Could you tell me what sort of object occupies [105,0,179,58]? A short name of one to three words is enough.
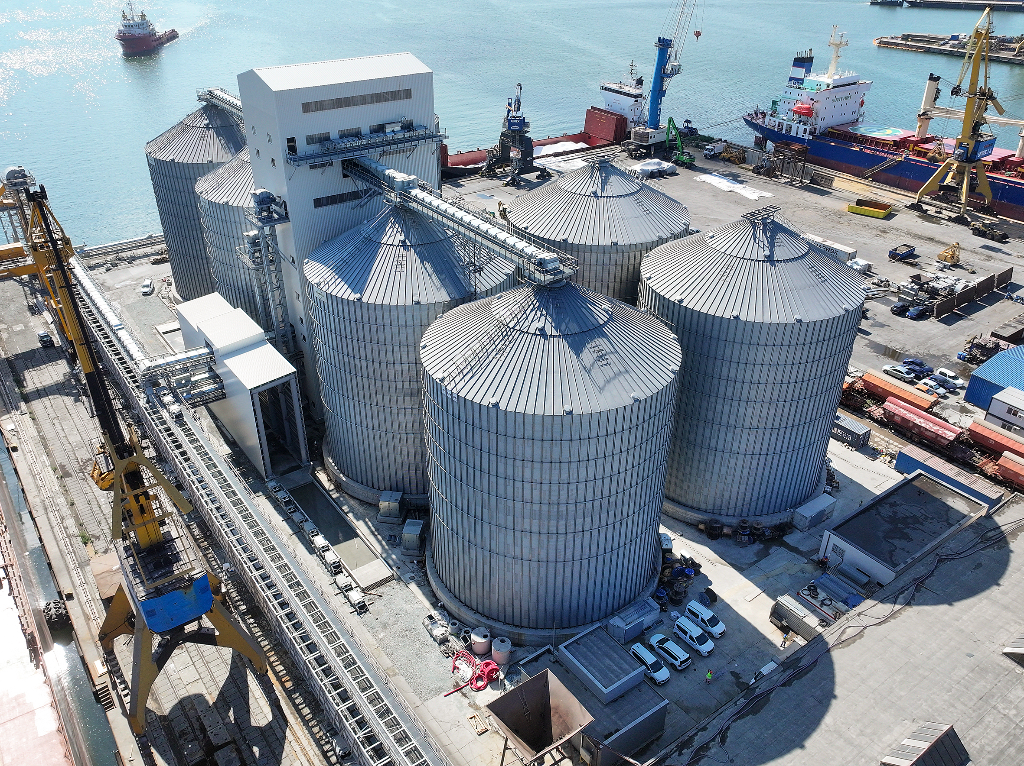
boat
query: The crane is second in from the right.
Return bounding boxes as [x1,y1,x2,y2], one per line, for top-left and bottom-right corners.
[609,0,701,159]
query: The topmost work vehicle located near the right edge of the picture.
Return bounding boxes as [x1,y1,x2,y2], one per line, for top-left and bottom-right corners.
[968,211,1012,237]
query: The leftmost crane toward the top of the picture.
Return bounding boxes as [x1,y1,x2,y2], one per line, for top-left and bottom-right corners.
[466,80,549,185]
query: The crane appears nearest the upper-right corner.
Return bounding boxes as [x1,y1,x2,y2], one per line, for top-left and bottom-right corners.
[909,0,1017,217]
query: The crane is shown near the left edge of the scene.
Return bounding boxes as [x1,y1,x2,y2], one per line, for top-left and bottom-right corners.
[12,183,278,760]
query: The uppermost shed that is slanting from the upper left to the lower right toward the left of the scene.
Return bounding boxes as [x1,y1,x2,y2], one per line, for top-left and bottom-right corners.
[171,296,315,480]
